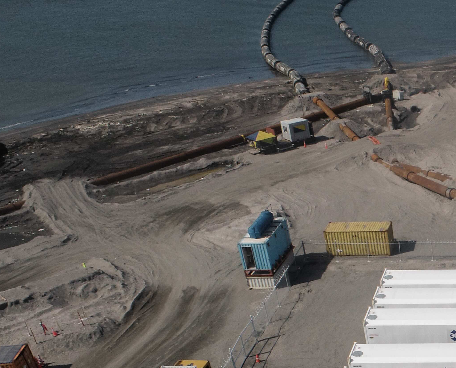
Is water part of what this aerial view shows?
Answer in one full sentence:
Yes, the picture does contain water.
